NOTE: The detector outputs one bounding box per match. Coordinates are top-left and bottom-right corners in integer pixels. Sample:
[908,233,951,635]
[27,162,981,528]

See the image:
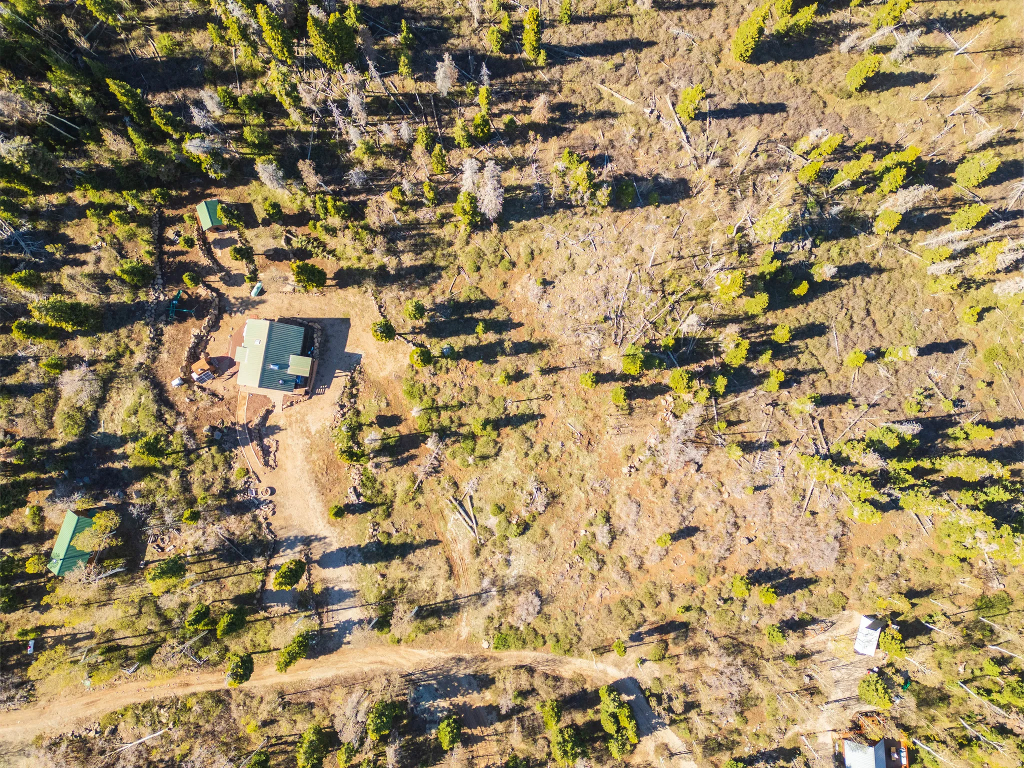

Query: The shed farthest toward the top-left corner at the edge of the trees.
[196,200,230,233]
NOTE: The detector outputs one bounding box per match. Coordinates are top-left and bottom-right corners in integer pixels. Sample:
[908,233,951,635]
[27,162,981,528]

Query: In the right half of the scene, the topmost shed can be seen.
[850,613,887,654]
